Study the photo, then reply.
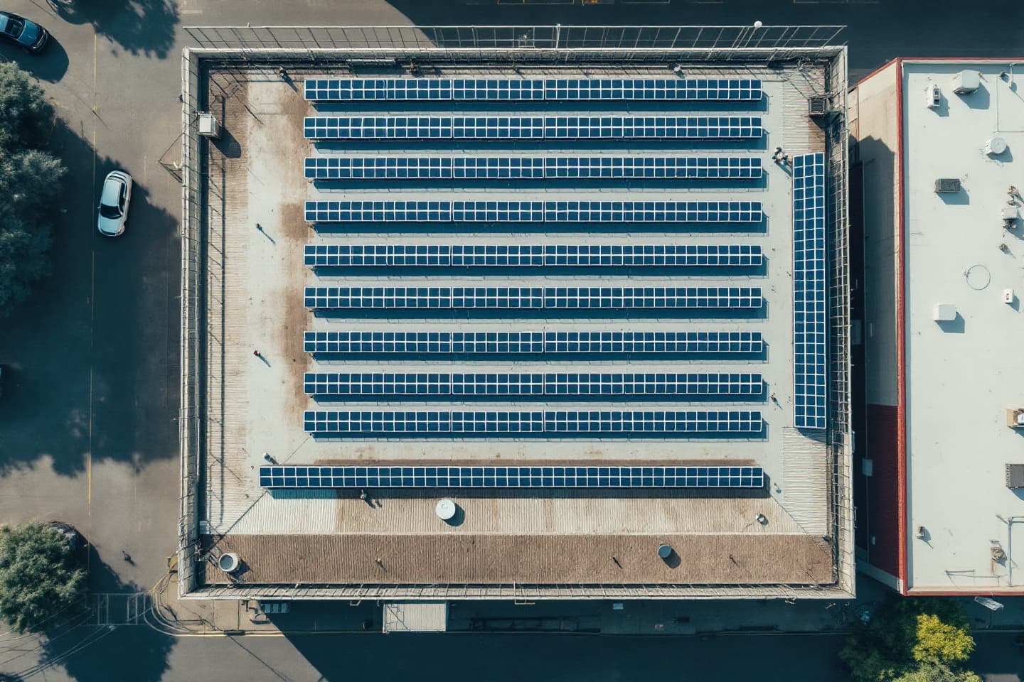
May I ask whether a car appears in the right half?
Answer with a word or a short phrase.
No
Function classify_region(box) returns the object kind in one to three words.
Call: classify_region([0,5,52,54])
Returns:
car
